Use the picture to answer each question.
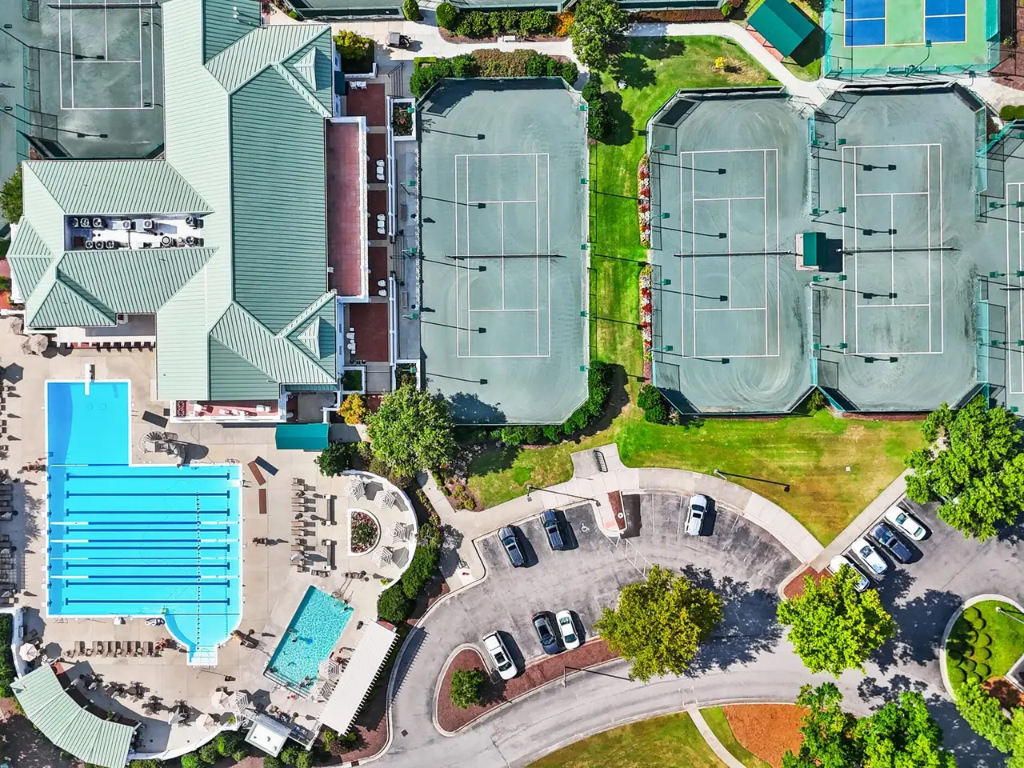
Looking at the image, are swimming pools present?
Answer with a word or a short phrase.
Yes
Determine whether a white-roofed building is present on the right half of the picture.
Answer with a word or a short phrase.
No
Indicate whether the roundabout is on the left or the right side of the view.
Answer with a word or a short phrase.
right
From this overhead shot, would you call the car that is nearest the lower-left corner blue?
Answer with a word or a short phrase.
No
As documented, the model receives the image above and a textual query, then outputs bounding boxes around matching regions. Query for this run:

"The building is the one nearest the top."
[746,0,815,63]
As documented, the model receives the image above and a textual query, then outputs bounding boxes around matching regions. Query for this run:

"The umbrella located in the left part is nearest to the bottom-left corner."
[21,641,42,661]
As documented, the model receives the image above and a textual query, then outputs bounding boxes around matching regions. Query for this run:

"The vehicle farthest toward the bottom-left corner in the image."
[486,631,515,675]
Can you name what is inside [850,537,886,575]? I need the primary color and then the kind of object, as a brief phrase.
white car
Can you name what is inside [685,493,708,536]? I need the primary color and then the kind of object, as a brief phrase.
white car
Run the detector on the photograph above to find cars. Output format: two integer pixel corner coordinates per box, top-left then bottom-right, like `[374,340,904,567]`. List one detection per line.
[556,608,580,649]
[885,505,926,541]
[498,523,527,568]
[540,506,567,552]
[685,493,708,536]
[831,555,867,589]
[869,522,911,564]
[532,611,559,652]
[486,631,515,675]
[850,537,886,575]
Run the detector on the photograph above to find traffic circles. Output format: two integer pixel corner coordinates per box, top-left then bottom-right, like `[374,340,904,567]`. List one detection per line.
[941,596,1024,703]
